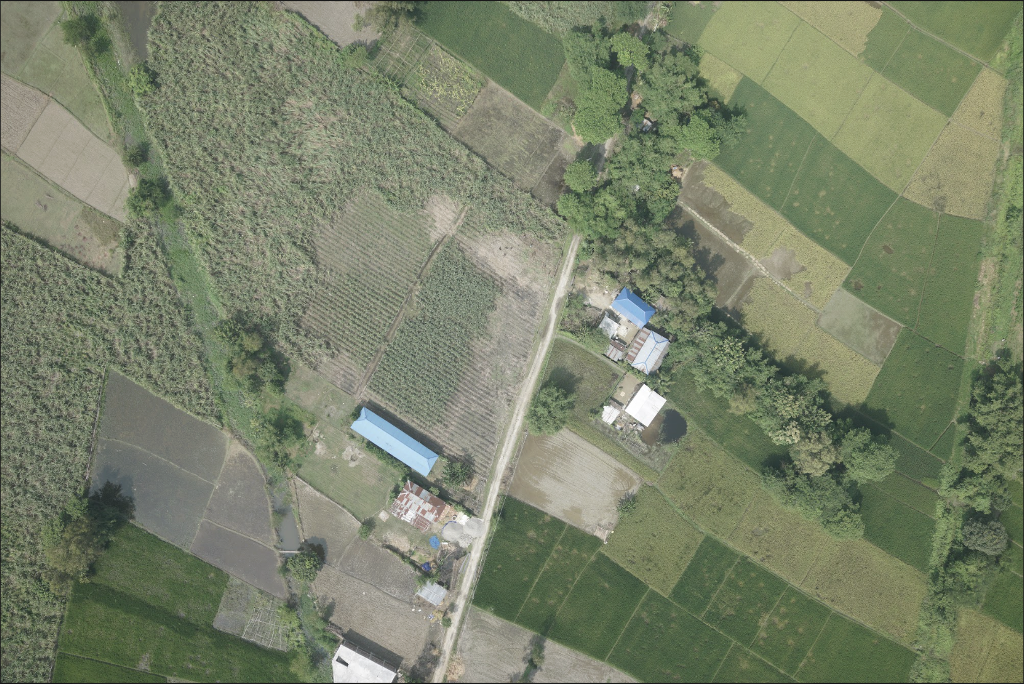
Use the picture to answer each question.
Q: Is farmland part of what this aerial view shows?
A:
Yes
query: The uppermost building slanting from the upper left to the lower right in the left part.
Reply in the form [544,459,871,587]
[351,407,438,476]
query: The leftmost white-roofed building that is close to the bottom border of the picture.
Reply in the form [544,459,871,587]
[333,636,400,684]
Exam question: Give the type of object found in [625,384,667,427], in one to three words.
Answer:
house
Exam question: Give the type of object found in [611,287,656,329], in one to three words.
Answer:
house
